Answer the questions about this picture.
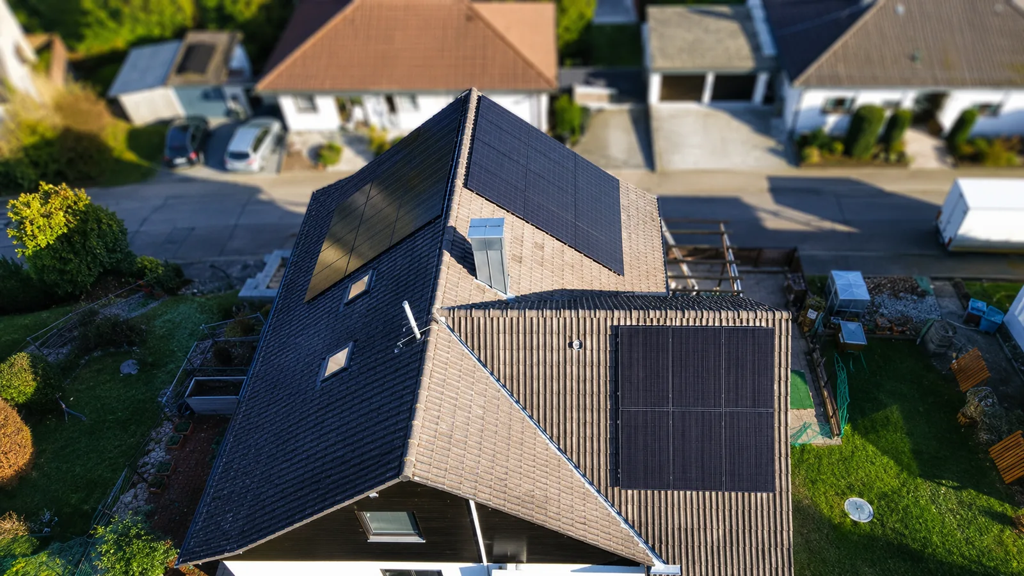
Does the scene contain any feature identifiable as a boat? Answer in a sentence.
No, the scene contains no boat.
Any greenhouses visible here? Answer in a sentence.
Yes, there's a greenhouse here.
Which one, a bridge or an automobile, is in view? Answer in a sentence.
Of the two, only an automobile appears.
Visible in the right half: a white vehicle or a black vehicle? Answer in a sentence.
There is a white vehicle in the right half.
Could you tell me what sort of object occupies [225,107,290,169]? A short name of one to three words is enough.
car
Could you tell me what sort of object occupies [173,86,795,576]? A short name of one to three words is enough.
house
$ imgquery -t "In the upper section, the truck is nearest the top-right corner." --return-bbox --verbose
[929,173,1024,264]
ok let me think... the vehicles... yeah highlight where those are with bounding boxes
[929,173,1024,264]
[170,108,228,160]
[225,107,290,169]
